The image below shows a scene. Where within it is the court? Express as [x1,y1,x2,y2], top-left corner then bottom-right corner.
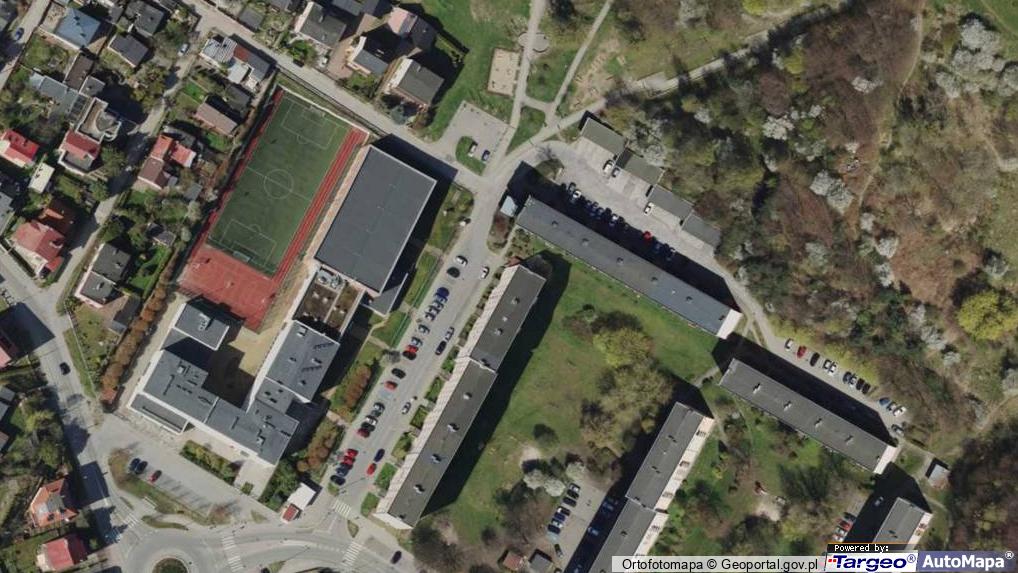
[177,244,274,334]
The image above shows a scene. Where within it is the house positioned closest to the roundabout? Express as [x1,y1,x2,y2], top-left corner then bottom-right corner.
[41,534,90,572]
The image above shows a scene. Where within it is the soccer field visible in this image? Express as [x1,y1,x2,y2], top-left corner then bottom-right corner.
[209,91,350,278]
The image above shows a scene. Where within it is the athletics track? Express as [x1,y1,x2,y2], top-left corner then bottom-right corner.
[178,86,369,287]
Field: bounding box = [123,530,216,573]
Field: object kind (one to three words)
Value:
roundabout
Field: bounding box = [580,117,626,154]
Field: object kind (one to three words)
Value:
building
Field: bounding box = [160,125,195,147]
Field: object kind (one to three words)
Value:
shed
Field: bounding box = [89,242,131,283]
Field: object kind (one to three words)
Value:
house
